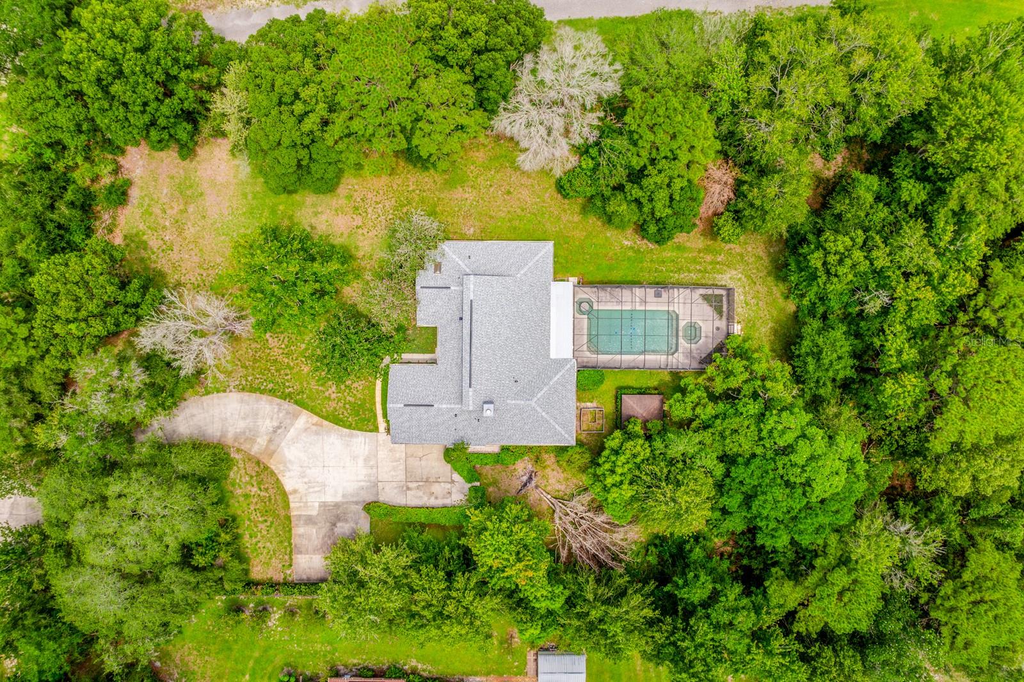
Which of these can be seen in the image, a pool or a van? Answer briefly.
pool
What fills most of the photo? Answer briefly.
trees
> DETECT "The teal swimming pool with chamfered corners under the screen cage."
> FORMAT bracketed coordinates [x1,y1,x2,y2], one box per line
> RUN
[573,295,682,358]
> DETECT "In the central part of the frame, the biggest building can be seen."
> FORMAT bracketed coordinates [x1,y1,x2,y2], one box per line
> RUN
[387,240,577,449]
